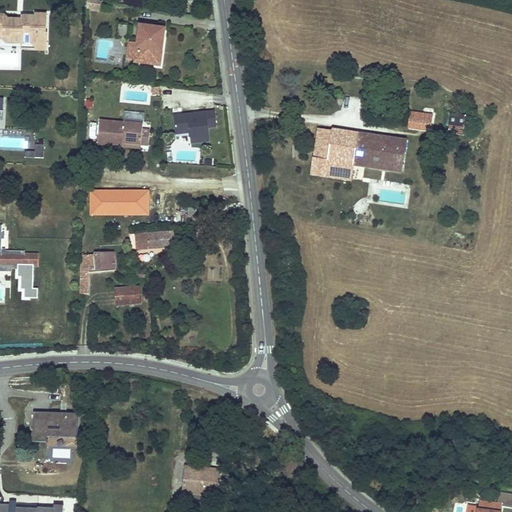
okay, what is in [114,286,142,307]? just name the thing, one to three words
building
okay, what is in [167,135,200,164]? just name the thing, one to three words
swimming pool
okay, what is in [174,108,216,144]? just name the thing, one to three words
house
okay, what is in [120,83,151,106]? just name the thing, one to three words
swimming pool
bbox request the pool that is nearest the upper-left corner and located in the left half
[93,38,125,68]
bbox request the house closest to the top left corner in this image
[0,11,48,72]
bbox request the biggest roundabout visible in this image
[222,346,294,432]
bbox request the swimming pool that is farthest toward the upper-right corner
[368,178,410,208]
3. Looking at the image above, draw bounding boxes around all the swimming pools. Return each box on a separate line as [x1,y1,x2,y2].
[0,129,46,158]
[0,271,10,304]
[93,38,125,68]
[454,503,466,512]
[368,178,410,208]
[120,83,151,106]
[167,135,200,164]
